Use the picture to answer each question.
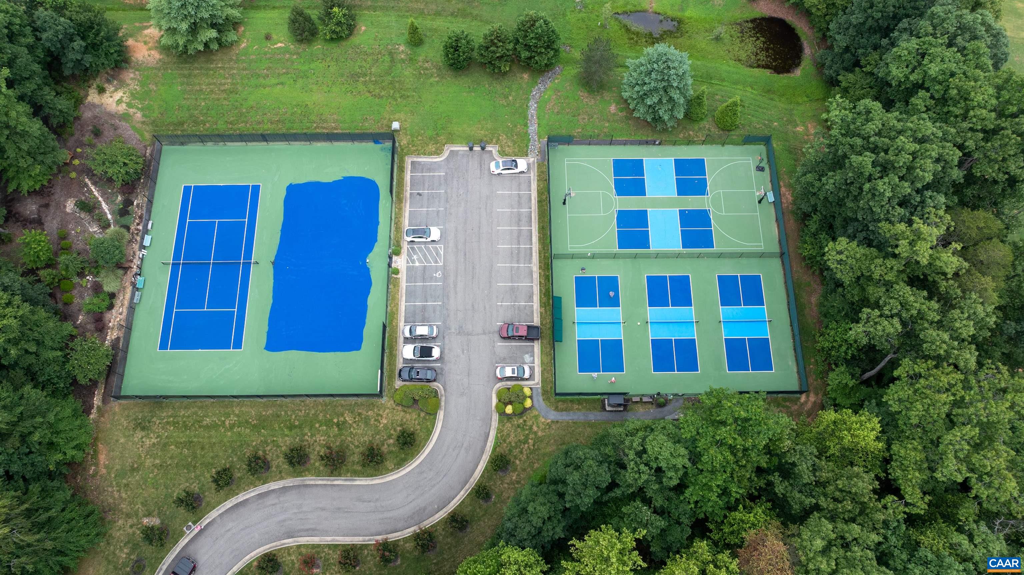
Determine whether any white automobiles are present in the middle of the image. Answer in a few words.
Yes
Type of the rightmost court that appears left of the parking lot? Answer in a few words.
tennis court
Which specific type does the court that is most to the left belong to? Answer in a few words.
tennis court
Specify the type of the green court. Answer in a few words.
basketball court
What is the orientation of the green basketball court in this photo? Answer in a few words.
from side to side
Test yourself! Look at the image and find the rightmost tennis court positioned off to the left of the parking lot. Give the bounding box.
[264,176,379,353]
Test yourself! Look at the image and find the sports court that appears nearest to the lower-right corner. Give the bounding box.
[716,274,775,372]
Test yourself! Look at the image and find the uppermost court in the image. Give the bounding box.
[612,157,710,197]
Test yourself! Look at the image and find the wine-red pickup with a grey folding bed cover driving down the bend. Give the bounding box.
[168,554,199,575]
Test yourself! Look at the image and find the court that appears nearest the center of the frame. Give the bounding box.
[574,275,625,374]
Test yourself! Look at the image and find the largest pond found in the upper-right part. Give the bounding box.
[731,17,802,75]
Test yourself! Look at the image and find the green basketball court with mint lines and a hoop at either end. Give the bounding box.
[565,157,764,250]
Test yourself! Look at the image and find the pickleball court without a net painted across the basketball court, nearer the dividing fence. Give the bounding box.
[615,208,715,250]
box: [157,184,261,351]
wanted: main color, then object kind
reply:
blue tennis court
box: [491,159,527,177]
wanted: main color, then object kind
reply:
white car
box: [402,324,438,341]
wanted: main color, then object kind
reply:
white car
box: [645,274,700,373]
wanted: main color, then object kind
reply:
blue sports court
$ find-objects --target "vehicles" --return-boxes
[168,554,199,575]
[398,365,437,382]
[495,365,532,381]
[491,159,527,177]
[402,324,438,341]
[404,227,440,244]
[498,322,542,342]
[402,344,441,361]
